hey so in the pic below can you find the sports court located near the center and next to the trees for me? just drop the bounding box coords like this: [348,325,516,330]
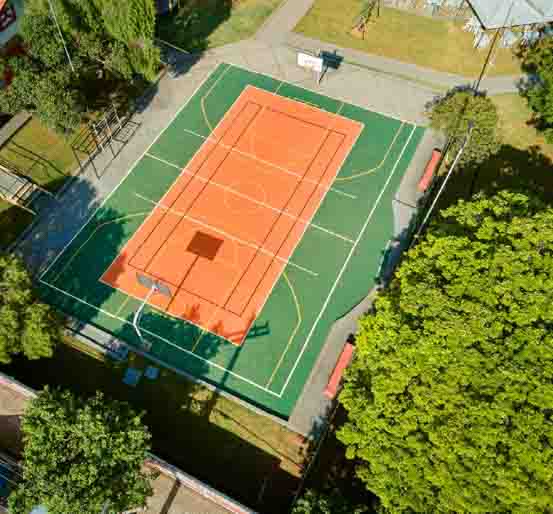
[31,59,428,420]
